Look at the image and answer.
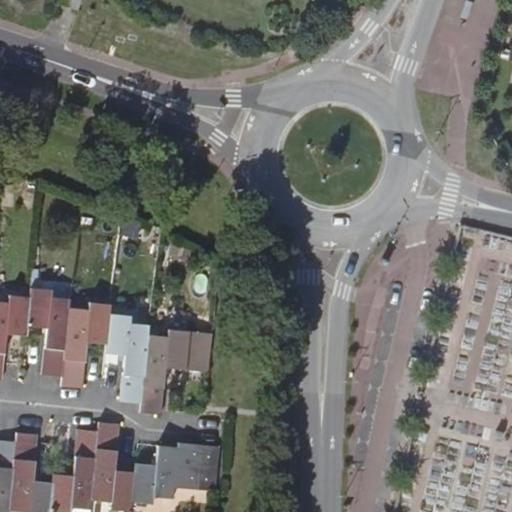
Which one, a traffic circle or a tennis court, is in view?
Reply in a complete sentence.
Visible in the photo is a traffic circle.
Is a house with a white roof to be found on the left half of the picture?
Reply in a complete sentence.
Yes, a house with a white roof shows up on the left half of the picture.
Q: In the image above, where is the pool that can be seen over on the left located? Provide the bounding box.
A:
[194,274,208,297]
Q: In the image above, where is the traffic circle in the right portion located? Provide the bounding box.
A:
[216,64,427,248]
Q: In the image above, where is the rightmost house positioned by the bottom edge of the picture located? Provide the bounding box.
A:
[173,443,218,491]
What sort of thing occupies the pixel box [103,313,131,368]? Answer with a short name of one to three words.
house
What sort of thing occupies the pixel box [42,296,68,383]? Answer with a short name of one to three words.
house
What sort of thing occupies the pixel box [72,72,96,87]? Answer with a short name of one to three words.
car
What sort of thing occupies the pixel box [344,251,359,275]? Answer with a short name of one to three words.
car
